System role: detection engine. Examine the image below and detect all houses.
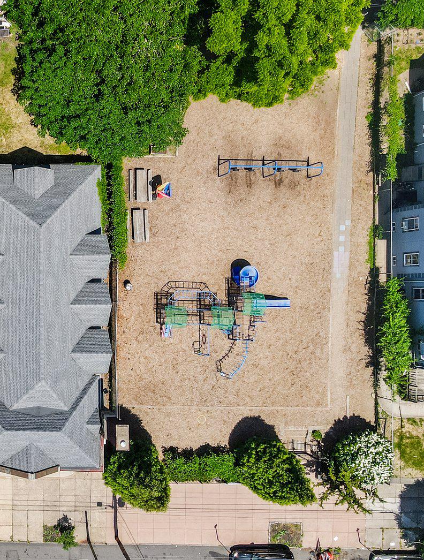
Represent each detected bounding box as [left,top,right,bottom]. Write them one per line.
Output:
[390,89,424,331]
[0,160,131,483]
